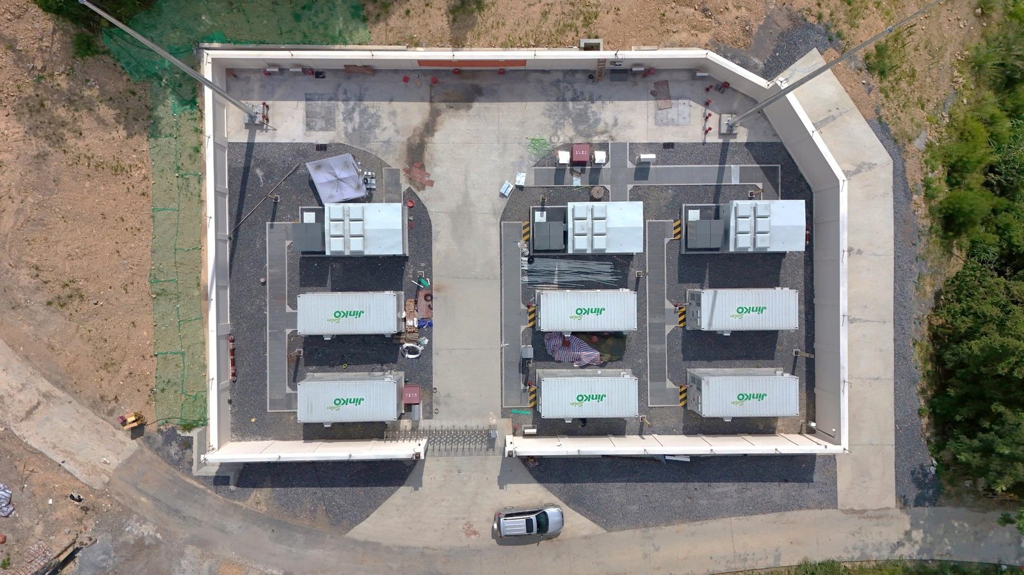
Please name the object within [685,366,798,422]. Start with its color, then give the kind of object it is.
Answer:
white shipping container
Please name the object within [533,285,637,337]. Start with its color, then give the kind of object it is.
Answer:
white shipping container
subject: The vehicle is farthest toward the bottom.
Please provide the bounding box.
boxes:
[493,504,562,540]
